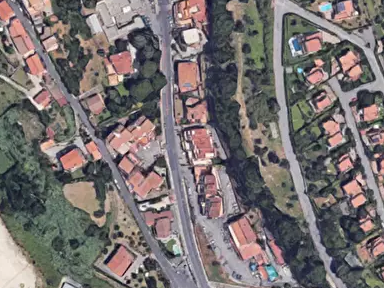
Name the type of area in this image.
residential area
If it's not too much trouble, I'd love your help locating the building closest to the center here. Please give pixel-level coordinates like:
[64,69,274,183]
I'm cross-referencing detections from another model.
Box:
[185,127,216,166]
